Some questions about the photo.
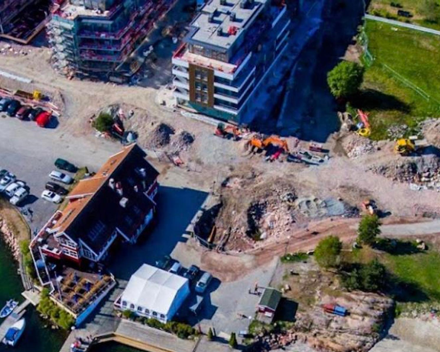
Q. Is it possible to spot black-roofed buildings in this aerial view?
Yes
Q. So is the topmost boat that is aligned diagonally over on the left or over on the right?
left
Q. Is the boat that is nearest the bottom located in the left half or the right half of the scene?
left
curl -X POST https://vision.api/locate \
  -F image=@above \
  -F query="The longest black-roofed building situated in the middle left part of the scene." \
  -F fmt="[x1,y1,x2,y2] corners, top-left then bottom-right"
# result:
[30,136,166,269]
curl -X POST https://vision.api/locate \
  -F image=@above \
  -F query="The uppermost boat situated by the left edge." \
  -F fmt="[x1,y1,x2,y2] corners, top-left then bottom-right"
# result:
[0,298,20,318]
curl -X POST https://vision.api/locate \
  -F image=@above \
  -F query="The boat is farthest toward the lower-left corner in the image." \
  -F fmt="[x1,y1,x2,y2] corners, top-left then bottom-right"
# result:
[4,318,24,348]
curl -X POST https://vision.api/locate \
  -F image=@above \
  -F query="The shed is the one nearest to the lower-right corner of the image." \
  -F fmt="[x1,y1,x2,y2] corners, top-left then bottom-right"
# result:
[254,288,287,318]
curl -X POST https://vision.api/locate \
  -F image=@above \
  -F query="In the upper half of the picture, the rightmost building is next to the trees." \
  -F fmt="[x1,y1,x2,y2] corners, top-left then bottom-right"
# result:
[171,0,341,124]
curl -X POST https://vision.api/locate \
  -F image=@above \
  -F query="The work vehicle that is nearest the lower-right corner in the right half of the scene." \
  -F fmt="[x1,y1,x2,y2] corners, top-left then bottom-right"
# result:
[360,196,385,213]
